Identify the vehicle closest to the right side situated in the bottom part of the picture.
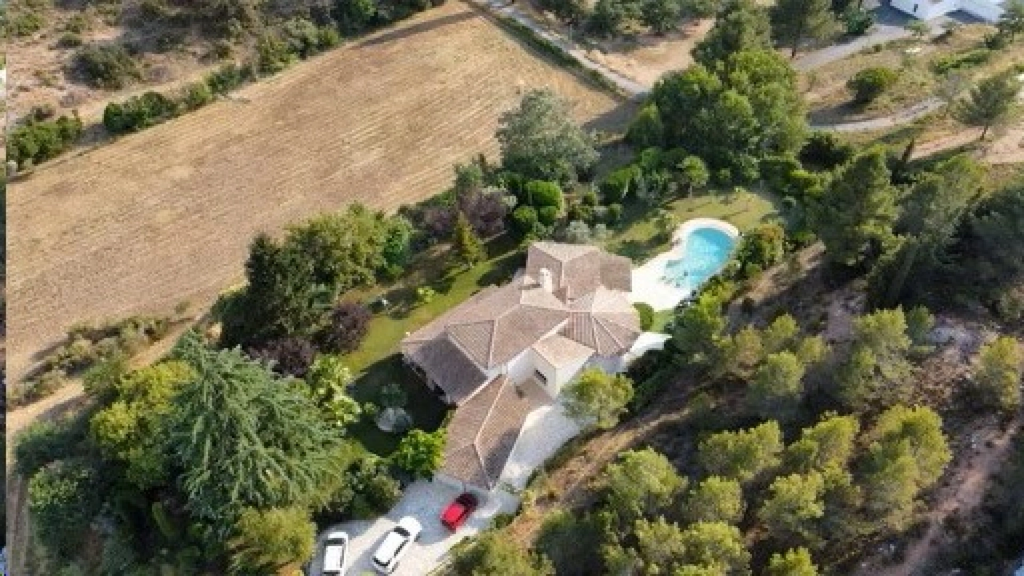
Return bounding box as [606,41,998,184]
[435,487,484,538]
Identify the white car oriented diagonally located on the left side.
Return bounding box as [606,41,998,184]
[366,511,428,576]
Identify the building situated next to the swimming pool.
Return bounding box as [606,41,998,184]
[400,242,643,498]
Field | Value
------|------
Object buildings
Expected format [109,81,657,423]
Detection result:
[892,0,1024,21]
[400,242,643,498]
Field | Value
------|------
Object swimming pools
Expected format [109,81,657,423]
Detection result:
[659,223,738,292]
